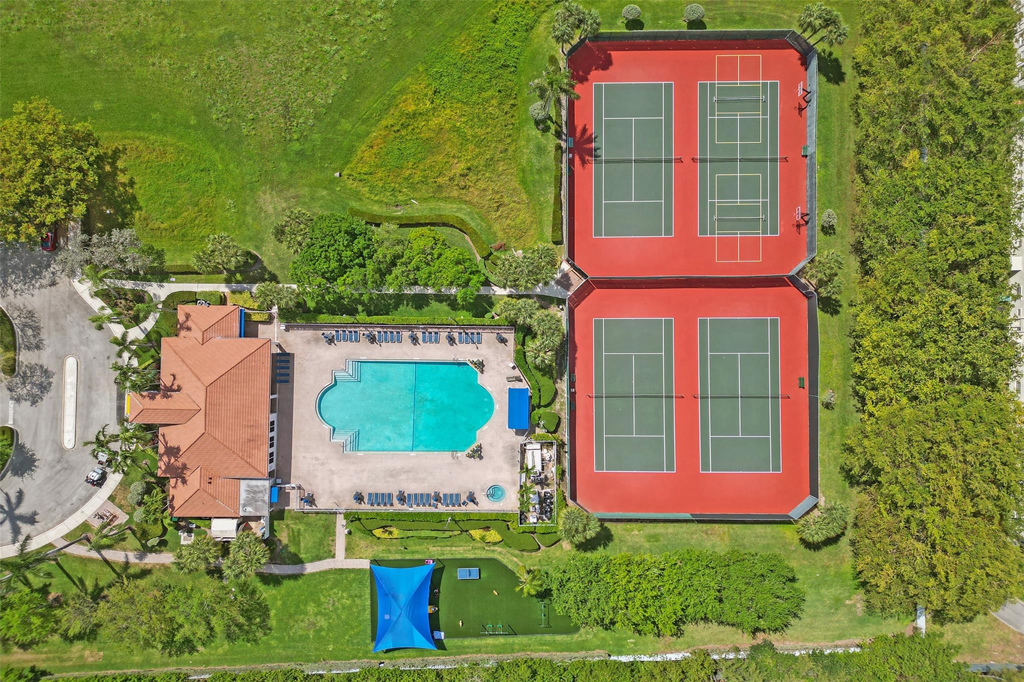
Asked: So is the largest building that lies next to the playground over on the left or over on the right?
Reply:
left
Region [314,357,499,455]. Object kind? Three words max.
swimming pool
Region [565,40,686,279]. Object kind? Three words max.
tennis court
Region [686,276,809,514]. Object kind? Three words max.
tennis court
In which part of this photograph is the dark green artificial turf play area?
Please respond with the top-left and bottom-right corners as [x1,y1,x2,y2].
[370,558,582,644]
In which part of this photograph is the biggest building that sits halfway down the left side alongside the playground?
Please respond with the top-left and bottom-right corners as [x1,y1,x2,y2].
[128,305,279,517]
